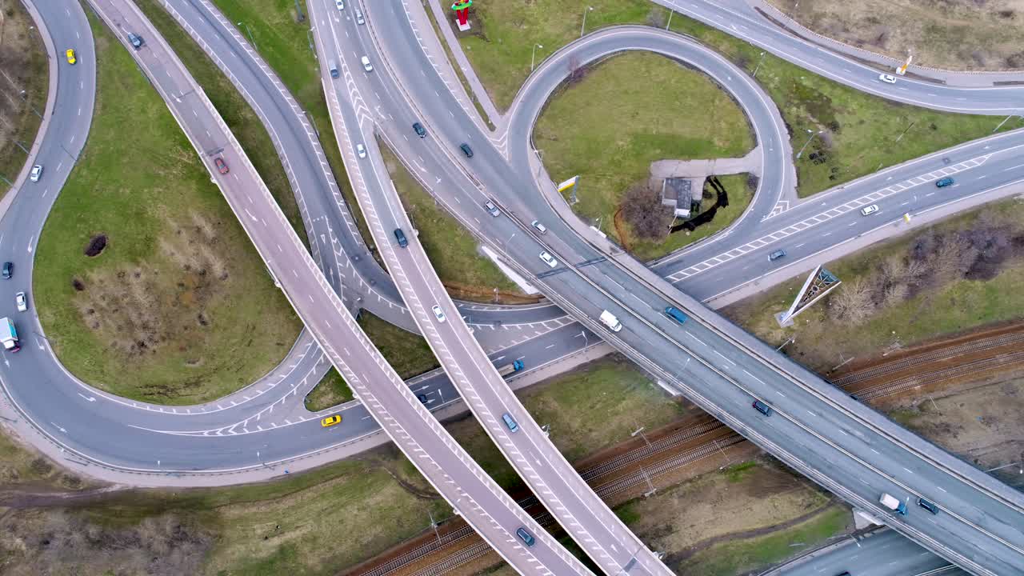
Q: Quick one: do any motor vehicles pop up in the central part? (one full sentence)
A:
Yes, a motor vehicle shows up in the central part.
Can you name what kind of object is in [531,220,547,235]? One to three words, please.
car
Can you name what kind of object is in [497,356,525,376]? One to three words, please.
vehicle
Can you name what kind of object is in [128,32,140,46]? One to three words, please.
vehicle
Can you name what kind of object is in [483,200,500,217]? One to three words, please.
car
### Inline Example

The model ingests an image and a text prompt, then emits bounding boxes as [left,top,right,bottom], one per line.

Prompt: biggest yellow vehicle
[320,414,342,427]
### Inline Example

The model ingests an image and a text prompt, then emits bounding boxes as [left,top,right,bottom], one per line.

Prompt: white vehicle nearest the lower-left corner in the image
[0,314,22,351]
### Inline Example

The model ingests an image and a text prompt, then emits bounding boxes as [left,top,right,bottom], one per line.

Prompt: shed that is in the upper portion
[661,178,691,221]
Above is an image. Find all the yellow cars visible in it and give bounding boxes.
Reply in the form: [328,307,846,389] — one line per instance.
[66,49,76,63]
[320,414,342,427]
